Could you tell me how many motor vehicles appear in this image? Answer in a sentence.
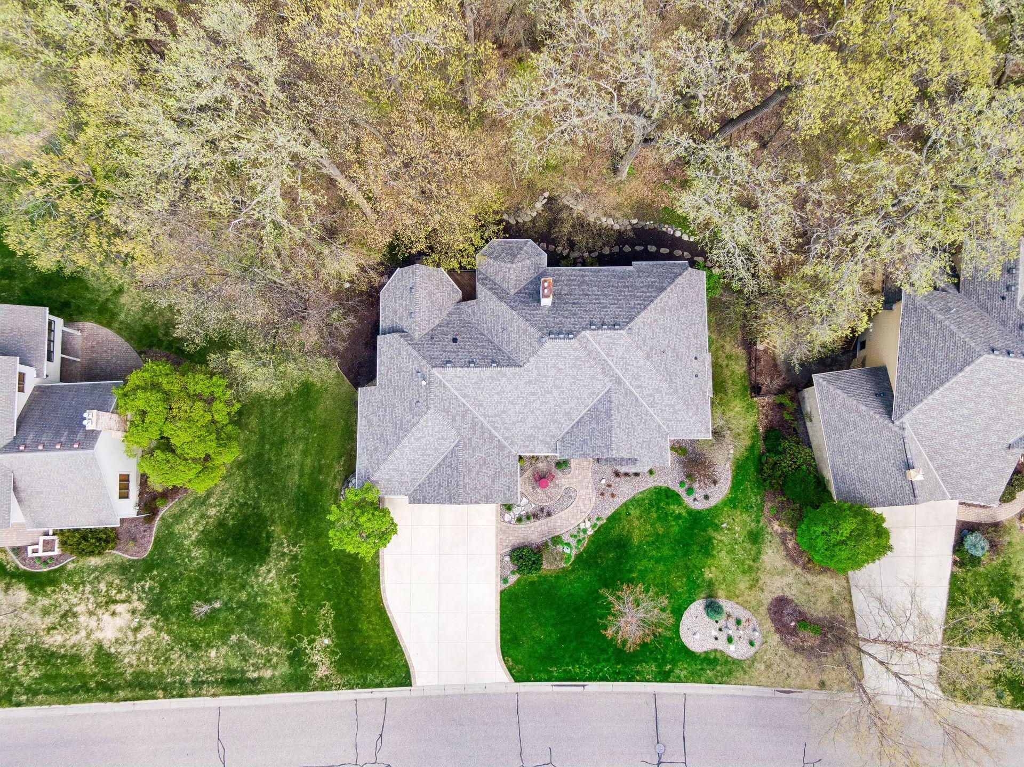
There are no motor vehicles in this view.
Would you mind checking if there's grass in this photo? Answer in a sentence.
Yes, grass can be seen from above here.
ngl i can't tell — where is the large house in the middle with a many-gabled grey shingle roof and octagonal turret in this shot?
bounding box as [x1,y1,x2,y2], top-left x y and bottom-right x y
[355,238,714,504]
